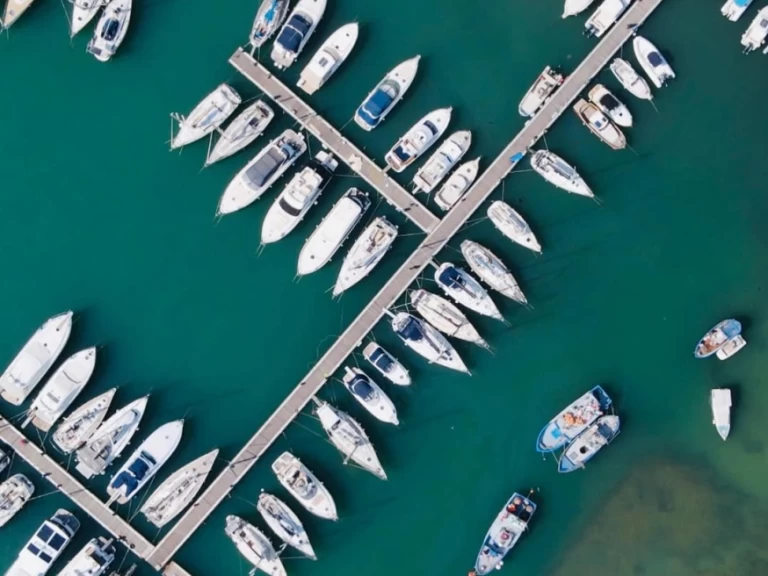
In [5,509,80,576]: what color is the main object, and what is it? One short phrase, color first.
white boat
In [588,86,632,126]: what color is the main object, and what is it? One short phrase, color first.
white boat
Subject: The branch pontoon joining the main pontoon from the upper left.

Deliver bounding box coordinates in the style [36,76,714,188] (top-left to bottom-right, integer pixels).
[229,47,441,235]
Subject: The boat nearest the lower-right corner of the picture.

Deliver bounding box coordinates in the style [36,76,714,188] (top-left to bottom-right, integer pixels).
[712,389,734,440]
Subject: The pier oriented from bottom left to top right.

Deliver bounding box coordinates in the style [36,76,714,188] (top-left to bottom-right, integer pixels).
[146,0,662,571]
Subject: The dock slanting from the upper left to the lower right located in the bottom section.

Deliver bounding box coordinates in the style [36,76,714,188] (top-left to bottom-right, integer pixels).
[0,414,158,559]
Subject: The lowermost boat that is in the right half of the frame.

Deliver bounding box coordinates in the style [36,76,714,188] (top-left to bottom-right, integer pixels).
[470,490,534,575]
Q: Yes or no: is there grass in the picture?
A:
No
